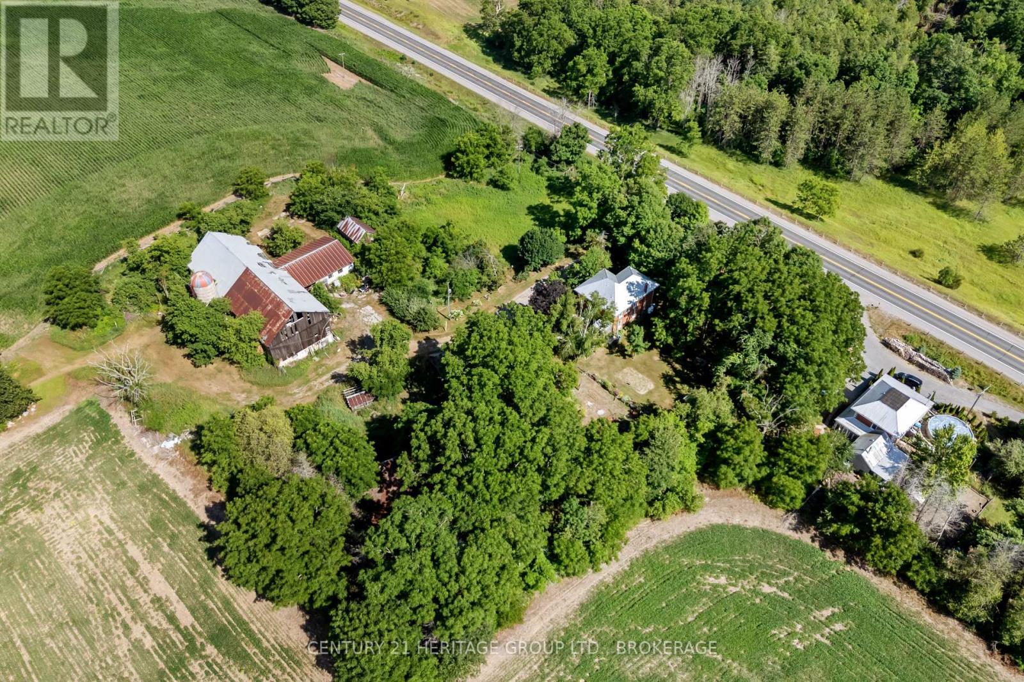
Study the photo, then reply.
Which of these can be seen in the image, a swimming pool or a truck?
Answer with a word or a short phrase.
swimming pool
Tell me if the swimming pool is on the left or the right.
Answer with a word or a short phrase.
right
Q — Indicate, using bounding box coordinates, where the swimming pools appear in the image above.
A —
[923,414,976,453]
